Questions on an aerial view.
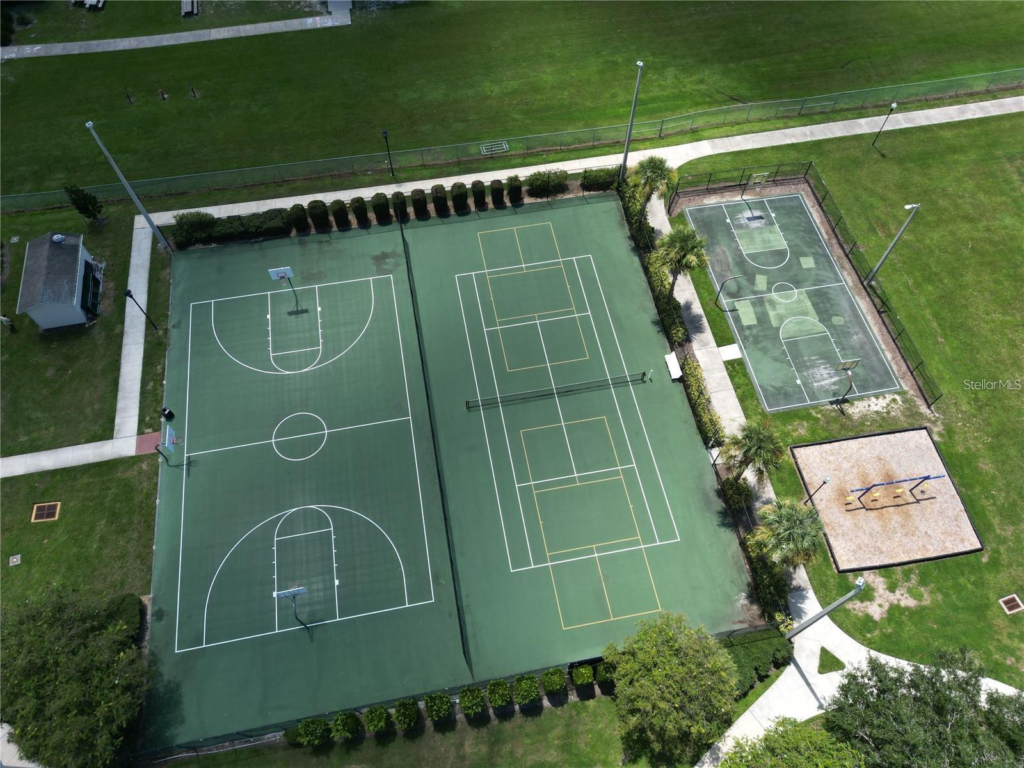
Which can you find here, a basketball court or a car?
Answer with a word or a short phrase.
basketball court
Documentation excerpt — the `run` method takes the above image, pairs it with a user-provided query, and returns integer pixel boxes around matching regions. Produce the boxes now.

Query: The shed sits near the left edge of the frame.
[17,231,107,328]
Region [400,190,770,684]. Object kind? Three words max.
tennis court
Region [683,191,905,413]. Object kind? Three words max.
basketball court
